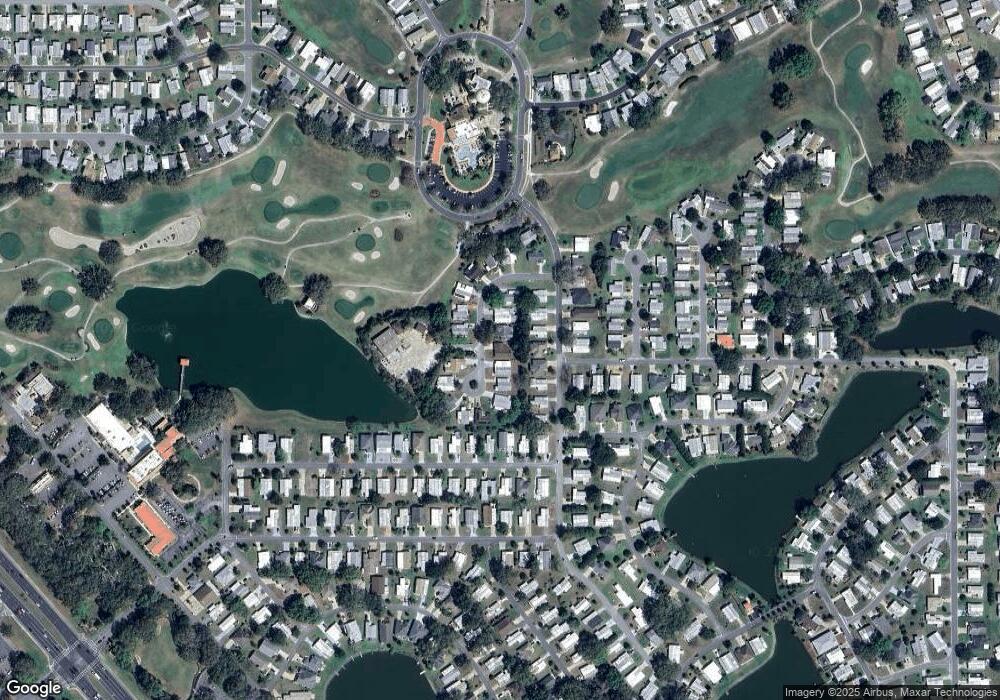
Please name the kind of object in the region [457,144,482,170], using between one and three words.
swimming pool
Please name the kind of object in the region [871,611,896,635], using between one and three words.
house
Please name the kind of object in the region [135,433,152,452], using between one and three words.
swimming pool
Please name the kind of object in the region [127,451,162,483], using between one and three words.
building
